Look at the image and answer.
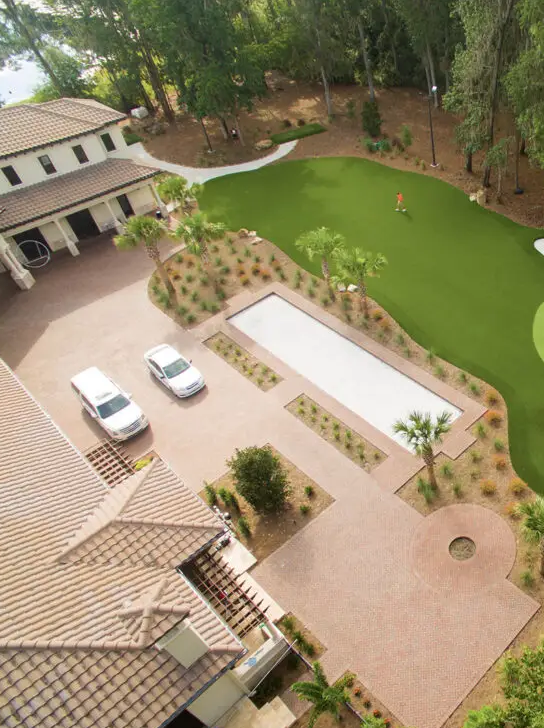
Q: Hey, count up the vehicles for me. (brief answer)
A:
2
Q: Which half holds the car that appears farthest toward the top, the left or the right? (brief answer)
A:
left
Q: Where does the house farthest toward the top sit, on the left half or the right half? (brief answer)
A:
left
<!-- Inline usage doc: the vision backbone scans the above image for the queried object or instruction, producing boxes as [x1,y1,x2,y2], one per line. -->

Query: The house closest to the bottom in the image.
[0,359,255,728]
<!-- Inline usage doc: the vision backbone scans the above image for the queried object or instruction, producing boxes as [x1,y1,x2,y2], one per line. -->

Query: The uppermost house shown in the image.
[0,95,173,269]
